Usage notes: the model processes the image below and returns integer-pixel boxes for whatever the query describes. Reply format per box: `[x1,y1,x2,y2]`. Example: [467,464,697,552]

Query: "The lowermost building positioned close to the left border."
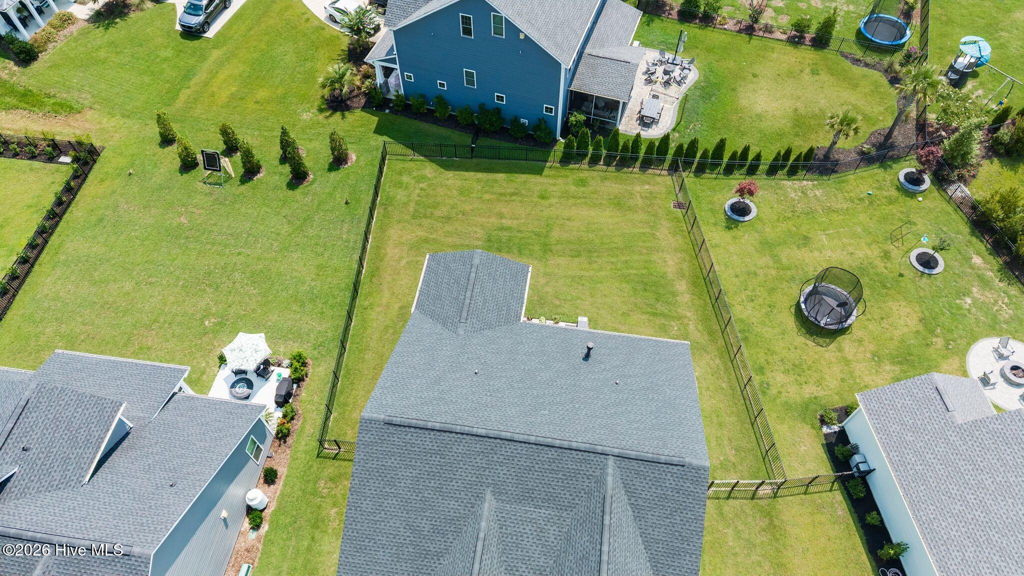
[0,350,274,576]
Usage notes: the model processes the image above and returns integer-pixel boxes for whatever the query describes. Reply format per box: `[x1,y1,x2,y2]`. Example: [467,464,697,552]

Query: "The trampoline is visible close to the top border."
[855,0,923,53]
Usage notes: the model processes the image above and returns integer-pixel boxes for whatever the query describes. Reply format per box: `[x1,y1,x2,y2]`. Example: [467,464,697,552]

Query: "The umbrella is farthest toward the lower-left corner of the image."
[222,332,272,377]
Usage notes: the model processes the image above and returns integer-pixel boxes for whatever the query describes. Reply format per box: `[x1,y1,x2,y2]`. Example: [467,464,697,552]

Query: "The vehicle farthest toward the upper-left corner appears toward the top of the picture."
[176,0,229,33]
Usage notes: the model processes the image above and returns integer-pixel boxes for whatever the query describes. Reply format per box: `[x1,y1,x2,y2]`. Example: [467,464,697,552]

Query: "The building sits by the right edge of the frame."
[843,372,1024,576]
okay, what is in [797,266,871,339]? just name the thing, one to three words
trampoline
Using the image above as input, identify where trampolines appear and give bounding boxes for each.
[797,266,871,339]
[855,0,923,53]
